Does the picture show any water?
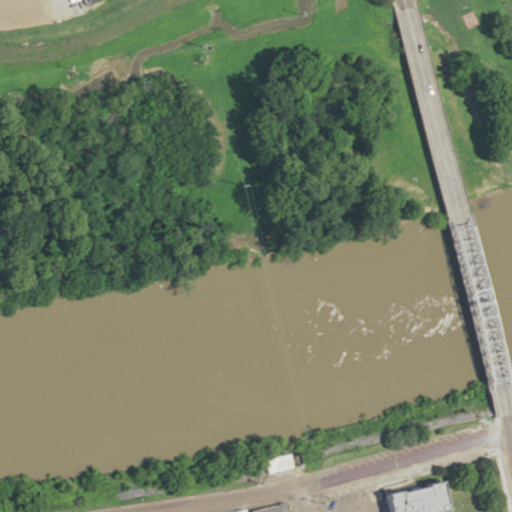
Yes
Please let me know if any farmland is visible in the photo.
No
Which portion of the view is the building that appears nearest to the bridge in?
bottom right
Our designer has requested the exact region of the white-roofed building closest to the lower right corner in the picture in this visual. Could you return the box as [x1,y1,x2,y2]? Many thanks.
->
[386,480,456,512]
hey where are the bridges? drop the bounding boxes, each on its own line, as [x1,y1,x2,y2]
[394,2,512,419]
